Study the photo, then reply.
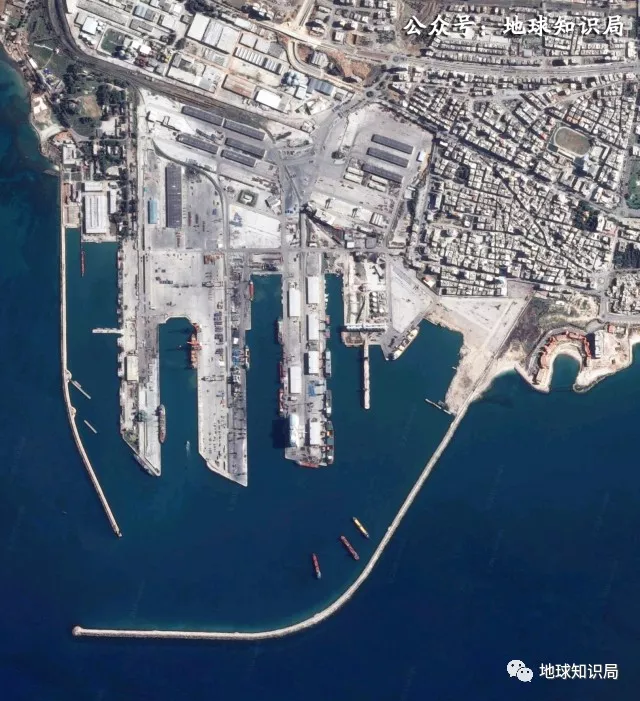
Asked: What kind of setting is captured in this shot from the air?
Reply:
port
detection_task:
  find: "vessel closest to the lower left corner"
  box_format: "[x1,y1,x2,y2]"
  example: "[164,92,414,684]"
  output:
[133,455,157,479]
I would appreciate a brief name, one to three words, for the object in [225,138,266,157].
building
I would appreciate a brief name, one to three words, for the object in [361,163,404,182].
building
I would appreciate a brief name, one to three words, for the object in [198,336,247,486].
pier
